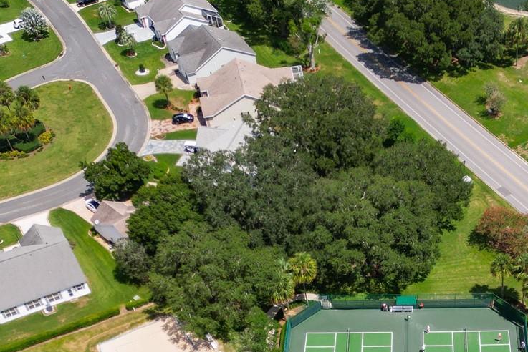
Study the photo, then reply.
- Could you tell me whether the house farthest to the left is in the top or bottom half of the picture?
bottom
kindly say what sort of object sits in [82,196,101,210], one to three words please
car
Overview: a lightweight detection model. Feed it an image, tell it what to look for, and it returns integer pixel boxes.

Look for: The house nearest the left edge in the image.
[0,225,92,325]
